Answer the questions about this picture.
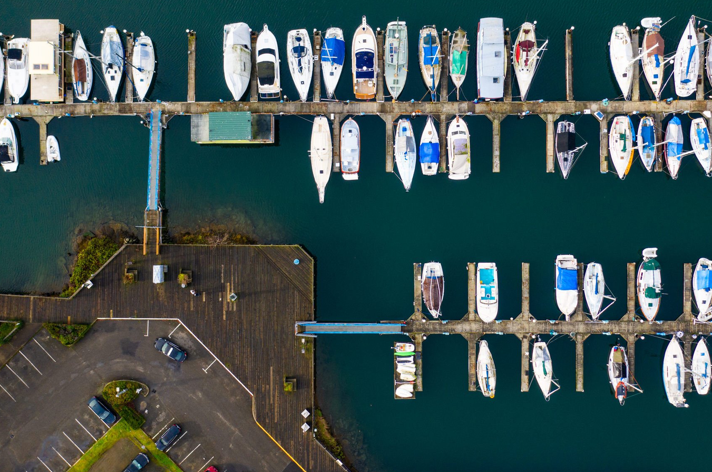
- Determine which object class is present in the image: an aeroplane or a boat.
boat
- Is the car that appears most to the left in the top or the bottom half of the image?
bottom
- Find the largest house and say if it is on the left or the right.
left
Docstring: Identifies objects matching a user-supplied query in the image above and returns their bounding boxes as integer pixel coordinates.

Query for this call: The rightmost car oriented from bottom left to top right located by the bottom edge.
[154,422,185,452]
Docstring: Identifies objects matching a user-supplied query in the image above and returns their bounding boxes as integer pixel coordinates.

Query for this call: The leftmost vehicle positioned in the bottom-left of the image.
[87,395,118,426]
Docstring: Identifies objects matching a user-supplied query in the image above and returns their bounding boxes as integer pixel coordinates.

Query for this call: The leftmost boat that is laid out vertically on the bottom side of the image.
[422,259,445,319]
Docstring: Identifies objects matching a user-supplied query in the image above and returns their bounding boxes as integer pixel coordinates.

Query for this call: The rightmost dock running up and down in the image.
[394,343,415,400]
